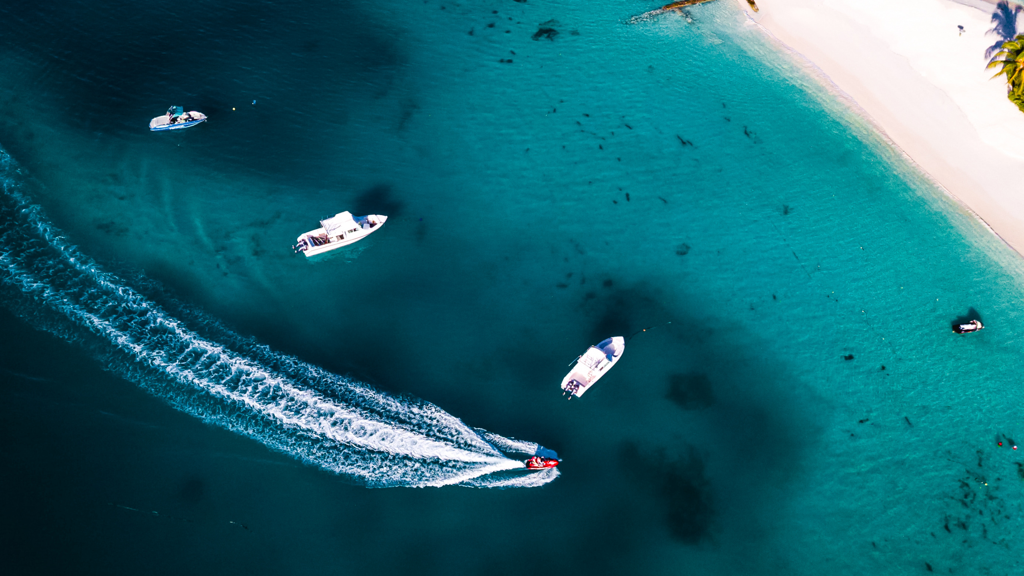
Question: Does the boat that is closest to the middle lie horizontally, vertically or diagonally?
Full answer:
From this overhead view, the boat that is closest to the middle appears to run diagonally.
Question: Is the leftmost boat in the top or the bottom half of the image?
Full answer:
Seen from above, the leftmost boat lies in the top half of the view.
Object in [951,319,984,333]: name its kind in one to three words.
vessel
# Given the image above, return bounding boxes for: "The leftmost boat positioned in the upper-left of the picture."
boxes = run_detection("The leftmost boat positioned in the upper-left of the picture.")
[146,104,208,132]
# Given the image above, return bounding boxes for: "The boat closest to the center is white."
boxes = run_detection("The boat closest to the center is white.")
[560,338,625,404]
